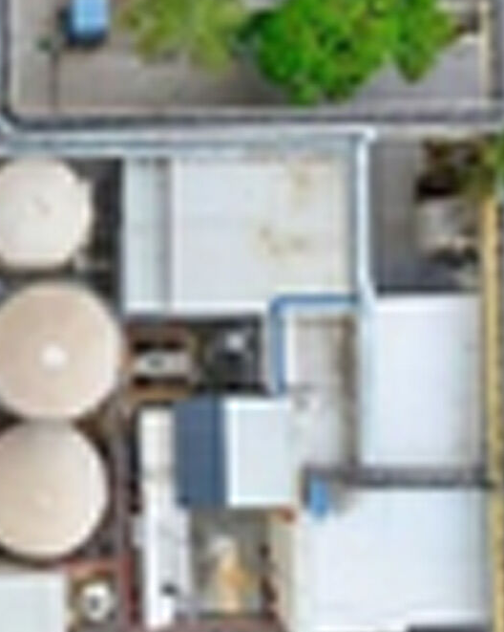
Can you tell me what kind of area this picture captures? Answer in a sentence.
The picture captures an industrial area.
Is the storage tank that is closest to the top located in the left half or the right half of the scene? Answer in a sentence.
You can find the storage tank that is closest to the top on the left side of the picture.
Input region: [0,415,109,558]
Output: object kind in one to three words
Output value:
storage tank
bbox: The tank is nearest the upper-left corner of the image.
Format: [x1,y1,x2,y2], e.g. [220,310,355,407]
[0,158,94,277]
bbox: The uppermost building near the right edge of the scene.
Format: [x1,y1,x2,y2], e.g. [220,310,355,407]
[346,296,486,473]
